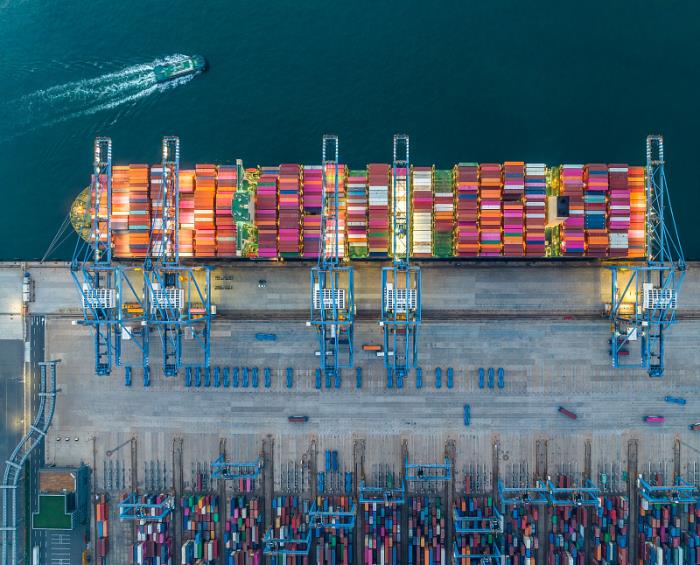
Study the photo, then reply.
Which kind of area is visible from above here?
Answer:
port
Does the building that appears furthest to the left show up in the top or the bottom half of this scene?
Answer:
bottom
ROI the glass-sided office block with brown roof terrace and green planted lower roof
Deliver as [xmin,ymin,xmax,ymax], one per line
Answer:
[32,463,90,529]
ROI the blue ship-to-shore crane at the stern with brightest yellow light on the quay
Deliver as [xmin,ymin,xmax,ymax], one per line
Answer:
[597,128,691,376]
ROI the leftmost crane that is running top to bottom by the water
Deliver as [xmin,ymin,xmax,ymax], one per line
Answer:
[70,128,163,376]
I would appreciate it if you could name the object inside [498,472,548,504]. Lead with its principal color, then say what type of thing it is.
blue crane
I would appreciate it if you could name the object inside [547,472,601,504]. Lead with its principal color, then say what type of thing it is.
blue crane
